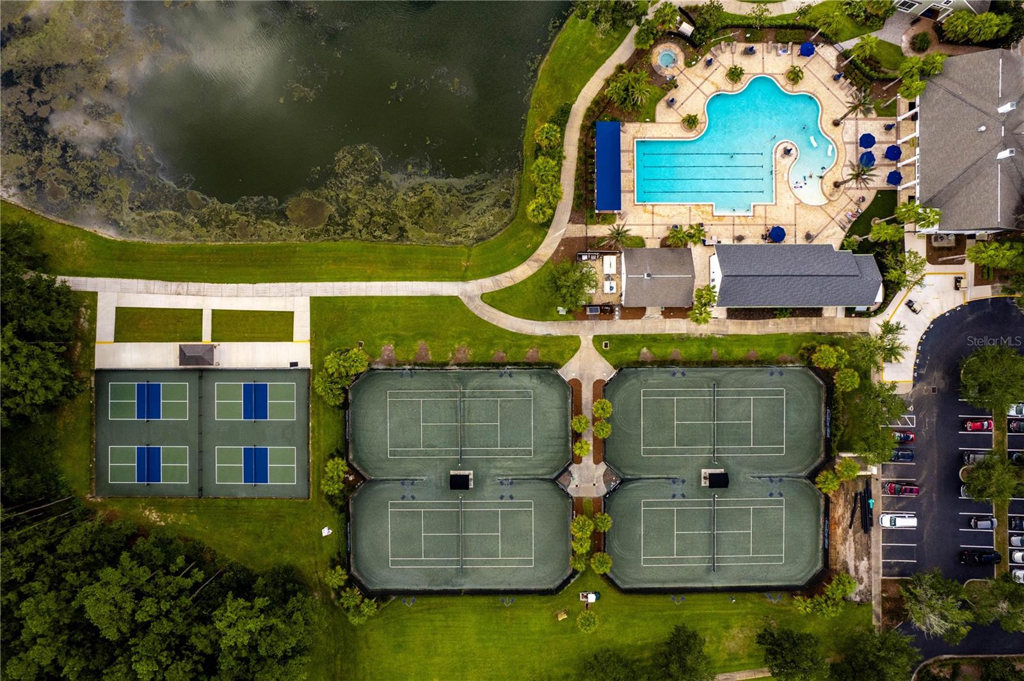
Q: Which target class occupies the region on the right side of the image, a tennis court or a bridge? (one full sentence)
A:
The one visible on the right side of the image is a tennis court.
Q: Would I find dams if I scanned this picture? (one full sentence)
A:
No, I can't see a single dam in this photo.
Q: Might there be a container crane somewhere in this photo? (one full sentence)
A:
No, the photo shows no container crane.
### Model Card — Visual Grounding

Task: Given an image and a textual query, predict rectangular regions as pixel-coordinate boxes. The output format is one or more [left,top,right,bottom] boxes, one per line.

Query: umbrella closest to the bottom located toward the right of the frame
[768,226,785,242]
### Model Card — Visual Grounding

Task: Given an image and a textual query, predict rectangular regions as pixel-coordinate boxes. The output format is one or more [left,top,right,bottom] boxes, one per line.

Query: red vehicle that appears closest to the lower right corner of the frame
[887,483,924,498]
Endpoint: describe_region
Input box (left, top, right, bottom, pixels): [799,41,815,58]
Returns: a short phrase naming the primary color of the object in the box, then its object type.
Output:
blue umbrella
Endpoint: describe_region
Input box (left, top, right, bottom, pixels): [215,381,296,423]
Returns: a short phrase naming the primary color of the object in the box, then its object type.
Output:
green sports court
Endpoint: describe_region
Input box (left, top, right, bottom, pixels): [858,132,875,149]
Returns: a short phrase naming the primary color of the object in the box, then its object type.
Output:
blue umbrella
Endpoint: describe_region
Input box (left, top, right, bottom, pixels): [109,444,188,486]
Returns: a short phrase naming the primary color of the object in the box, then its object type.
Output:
green sports court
